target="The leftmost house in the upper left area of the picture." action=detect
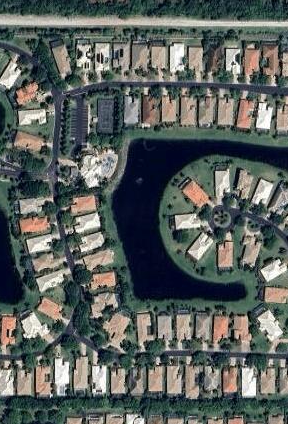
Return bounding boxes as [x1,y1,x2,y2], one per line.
[0,60,21,94]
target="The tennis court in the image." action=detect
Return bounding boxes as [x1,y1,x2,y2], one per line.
[98,99,114,134]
